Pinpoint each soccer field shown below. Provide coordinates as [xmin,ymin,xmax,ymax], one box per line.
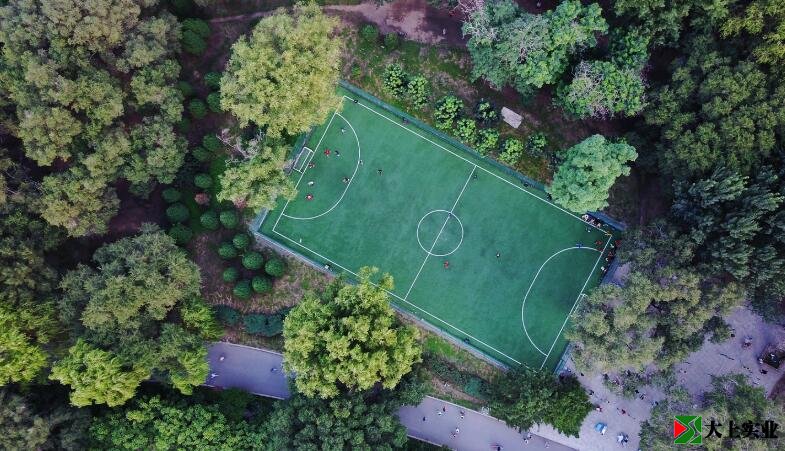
[261,87,621,380]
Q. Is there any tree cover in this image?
Yes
